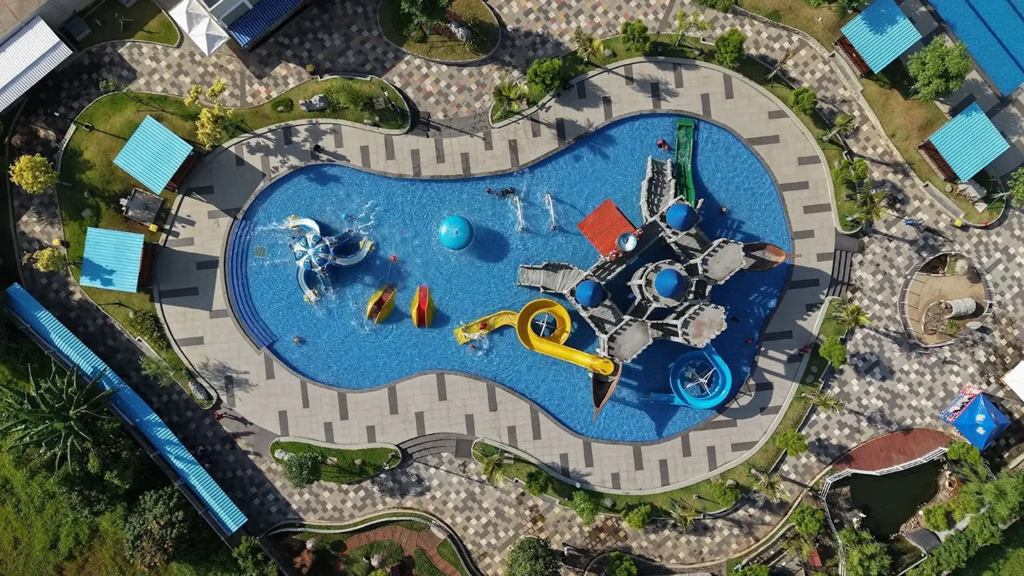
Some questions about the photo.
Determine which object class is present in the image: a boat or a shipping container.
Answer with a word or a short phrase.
boat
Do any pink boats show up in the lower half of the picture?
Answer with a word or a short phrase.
No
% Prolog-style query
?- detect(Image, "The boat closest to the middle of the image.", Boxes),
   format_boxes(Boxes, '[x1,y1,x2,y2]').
[591,362,622,422]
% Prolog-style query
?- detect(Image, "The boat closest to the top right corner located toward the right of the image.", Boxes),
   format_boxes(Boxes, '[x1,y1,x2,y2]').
[744,242,802,271]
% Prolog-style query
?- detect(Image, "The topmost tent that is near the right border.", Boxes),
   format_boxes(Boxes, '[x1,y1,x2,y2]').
[967,349,1024,408]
